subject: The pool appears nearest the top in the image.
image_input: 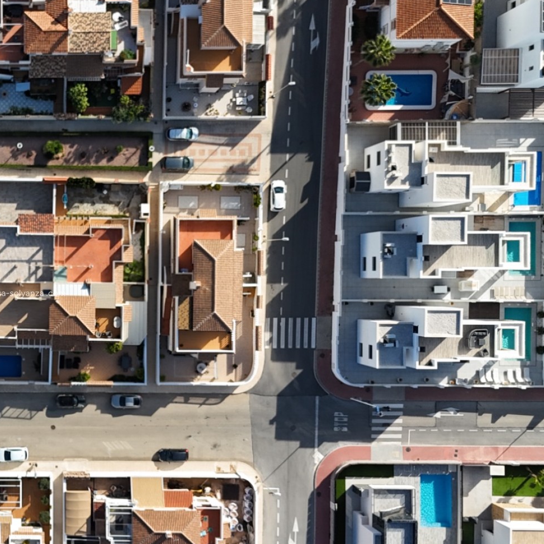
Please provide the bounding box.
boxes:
[366,69,437,109]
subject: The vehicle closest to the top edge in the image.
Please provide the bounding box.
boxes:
[167,126,198,142]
